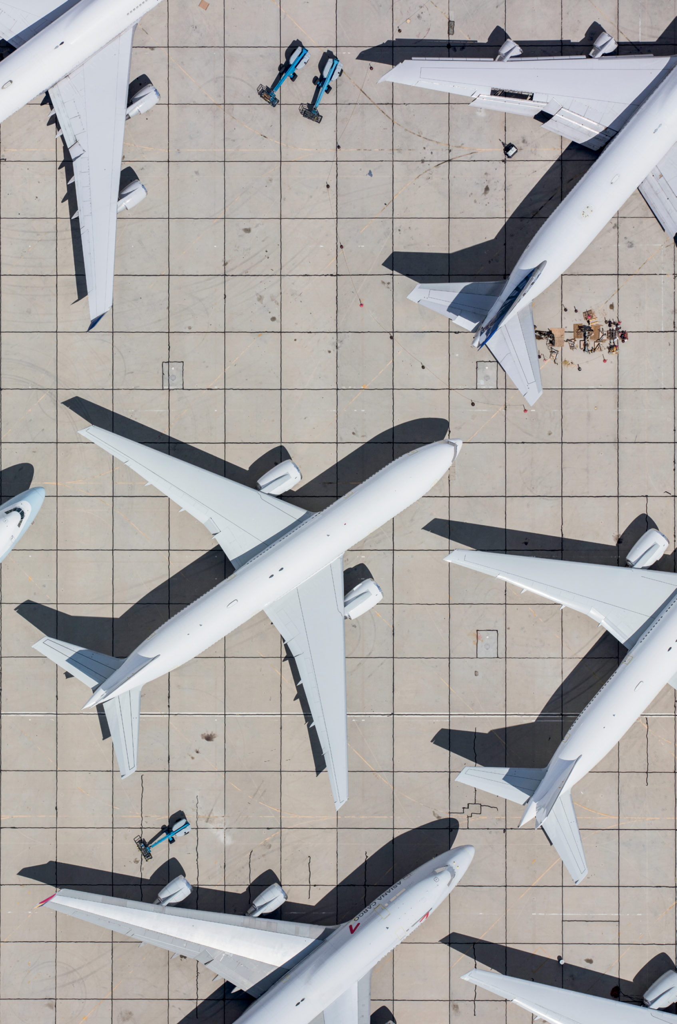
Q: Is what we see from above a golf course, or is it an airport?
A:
airport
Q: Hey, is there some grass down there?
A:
No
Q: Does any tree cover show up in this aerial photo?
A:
No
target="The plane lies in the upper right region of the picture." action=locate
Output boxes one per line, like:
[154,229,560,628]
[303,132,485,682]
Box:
[378,33,677,406]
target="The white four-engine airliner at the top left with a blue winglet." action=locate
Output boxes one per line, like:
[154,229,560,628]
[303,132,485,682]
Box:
[0,0,162,332]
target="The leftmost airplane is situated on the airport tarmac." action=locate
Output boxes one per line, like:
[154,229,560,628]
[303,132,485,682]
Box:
[0,488,45,562]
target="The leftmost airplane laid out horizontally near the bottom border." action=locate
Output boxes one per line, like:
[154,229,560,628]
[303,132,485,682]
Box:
[33,845,474,1024]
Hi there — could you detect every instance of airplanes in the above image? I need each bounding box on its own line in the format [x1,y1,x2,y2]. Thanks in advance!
[378,33,677,406]
[461,969,677,1024]
[0,0,162,332]
[33,845,474,1024]
[0,488,45,562]
[31,425,463,810]
[443,530,677,885]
